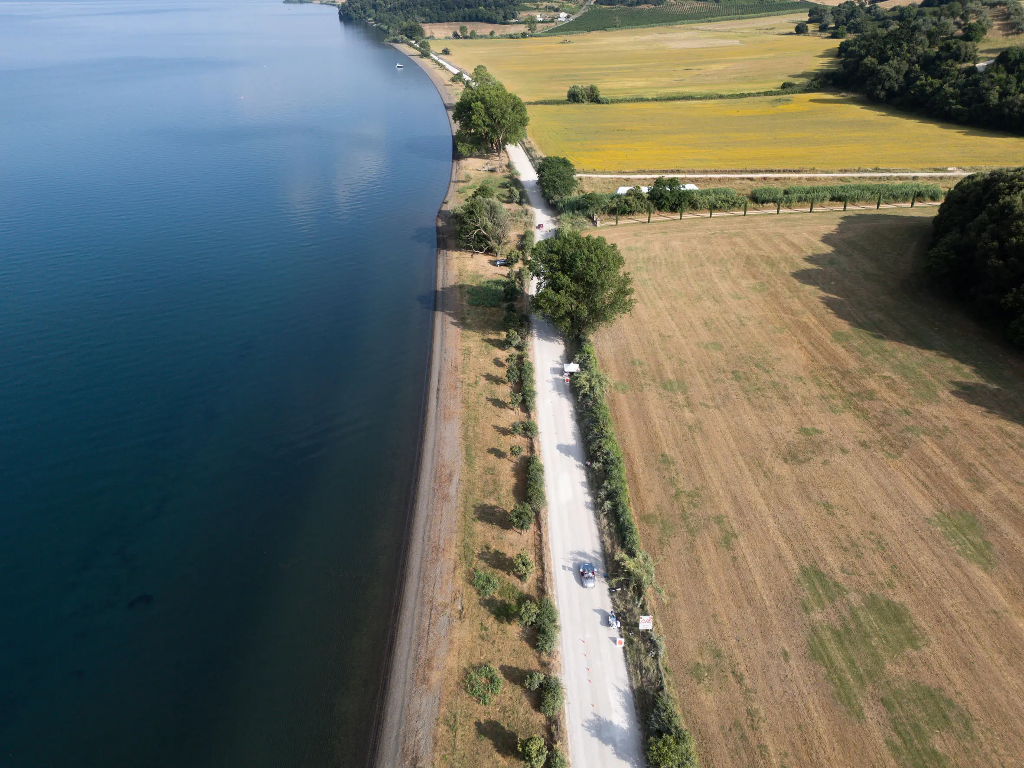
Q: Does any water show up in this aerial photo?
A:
Yes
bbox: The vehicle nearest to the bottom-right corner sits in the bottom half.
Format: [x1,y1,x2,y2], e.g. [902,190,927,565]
[580,560,598,591]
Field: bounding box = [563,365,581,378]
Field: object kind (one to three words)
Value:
gazebo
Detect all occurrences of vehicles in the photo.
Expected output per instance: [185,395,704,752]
[580,560,598,591]
[492,258,514,267]
[537,223,544,230]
